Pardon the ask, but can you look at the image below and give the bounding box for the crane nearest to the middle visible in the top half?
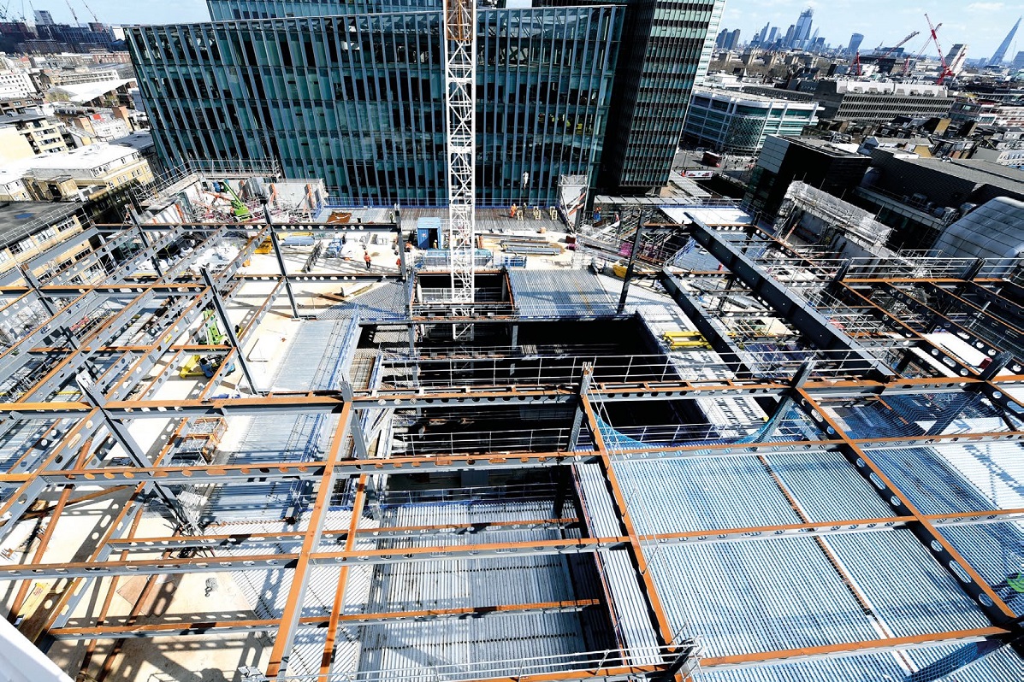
[442,0,480,358]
